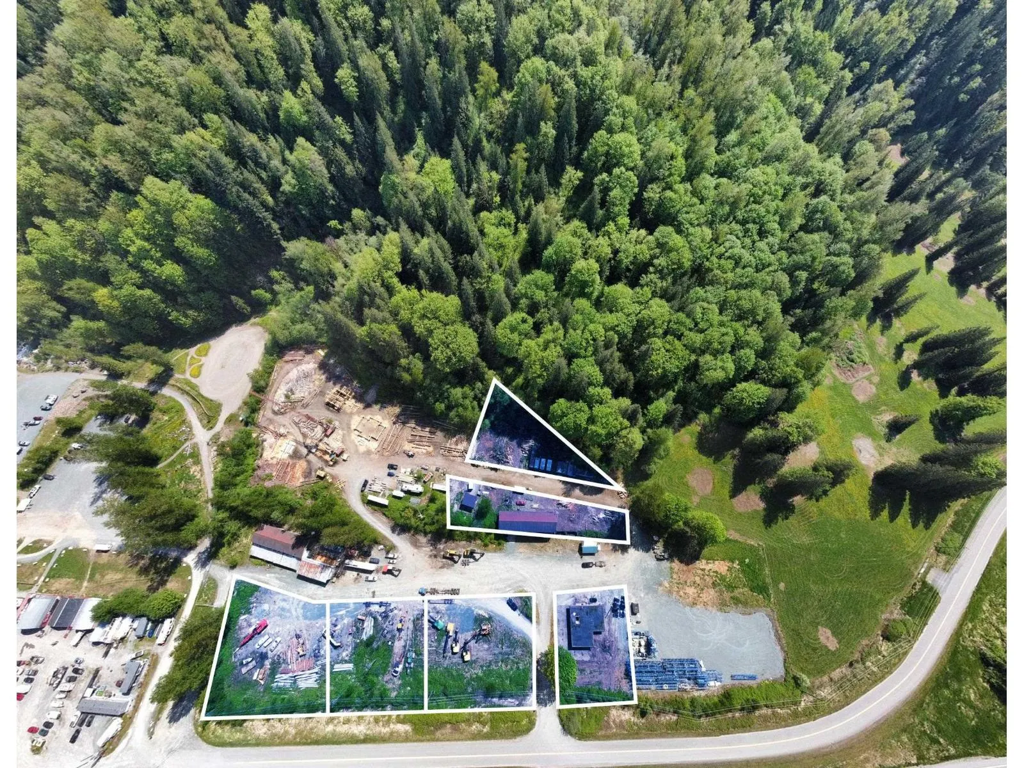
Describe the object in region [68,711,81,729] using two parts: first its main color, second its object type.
white vehicle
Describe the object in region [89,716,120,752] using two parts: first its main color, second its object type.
white bus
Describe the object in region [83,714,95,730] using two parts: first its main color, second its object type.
gray vehicle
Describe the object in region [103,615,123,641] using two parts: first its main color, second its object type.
white camper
